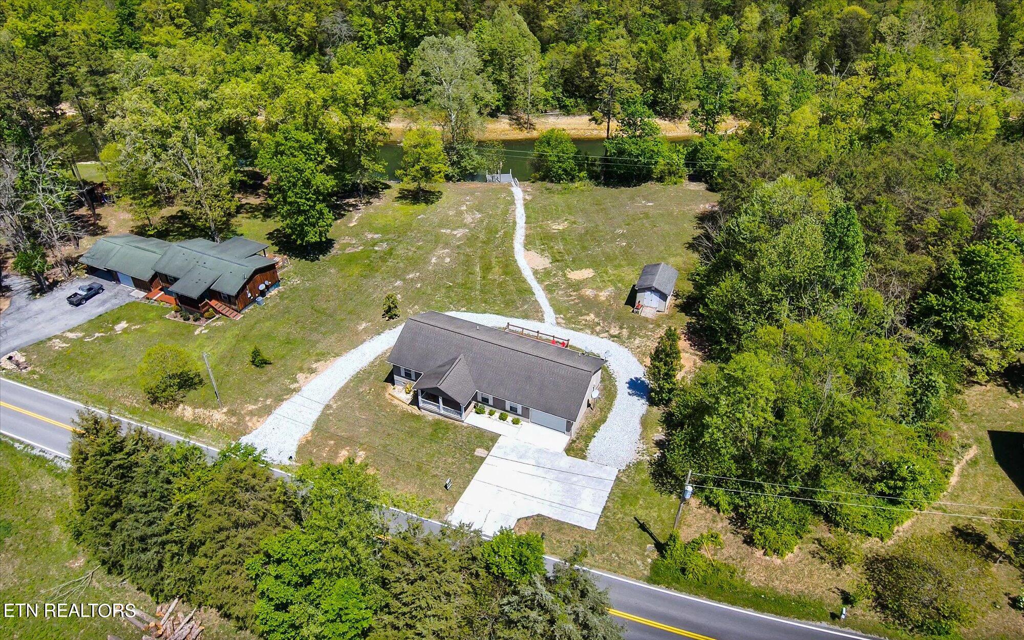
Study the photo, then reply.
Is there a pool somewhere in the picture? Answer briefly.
No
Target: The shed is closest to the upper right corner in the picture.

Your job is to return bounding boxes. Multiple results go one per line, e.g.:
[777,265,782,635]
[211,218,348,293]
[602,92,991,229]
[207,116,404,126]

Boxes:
[635,265,679,321]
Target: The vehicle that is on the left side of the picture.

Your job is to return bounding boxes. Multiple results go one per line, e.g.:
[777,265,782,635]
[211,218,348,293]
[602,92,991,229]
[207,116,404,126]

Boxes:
[66,283,107,308]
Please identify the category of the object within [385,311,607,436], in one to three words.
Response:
house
